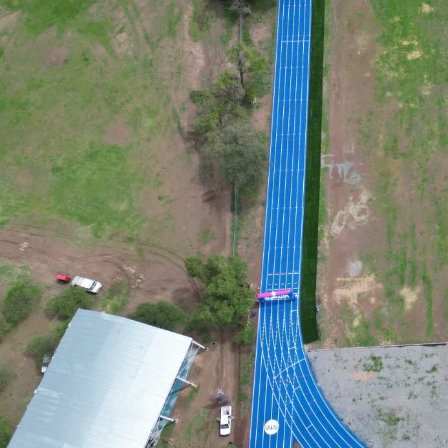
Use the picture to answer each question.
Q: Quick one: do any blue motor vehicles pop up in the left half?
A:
No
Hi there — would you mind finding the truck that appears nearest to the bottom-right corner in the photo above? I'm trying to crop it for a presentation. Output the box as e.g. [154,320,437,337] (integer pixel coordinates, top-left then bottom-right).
[214,406,235,435]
